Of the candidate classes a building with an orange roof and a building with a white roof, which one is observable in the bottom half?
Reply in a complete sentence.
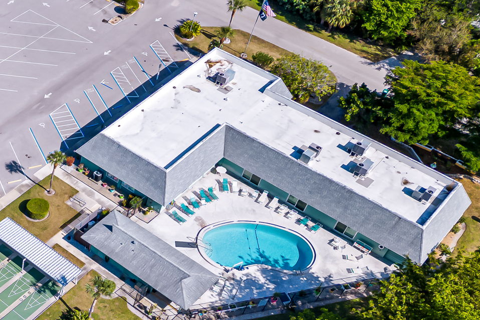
Looking in the bottom half, you will find a building with a white roof.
